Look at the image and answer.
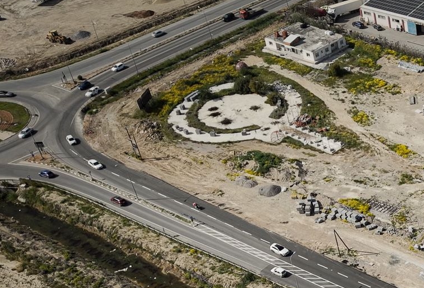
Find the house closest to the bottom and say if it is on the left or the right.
right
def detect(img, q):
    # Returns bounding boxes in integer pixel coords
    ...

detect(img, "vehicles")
[327,0,368,17]
[17,128,35,138]
[222,14,236,20]
[271,243,289,256]
[111,63,125,71]
[65,136,78,145]
[88,160,104,169]
[83,87,103,97]
[38,171,55,178]
[352,21,364,28]
[0,91,15,98]
[270,268,290,279]
[309,2,327,16]
[109,195,129,207]
[373,25,383,30]
[77,82,94,90]
[239,9,265,19]
[51,30,74,44]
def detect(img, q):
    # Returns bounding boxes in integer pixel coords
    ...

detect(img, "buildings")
[359,0,424,35]
[258,23,354,67]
